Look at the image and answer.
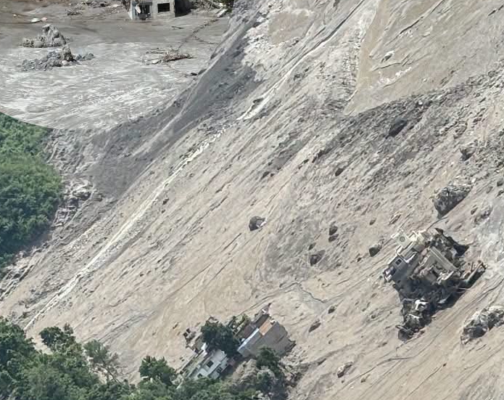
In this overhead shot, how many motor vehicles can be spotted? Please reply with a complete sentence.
The picture shows no motor vehicles.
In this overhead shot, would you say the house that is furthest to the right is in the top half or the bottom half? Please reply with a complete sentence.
You can find the house that is furthest to the right in the bottom half.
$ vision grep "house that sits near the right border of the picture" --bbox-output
[354,222,485,341]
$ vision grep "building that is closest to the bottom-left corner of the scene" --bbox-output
[168,334,223,386]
